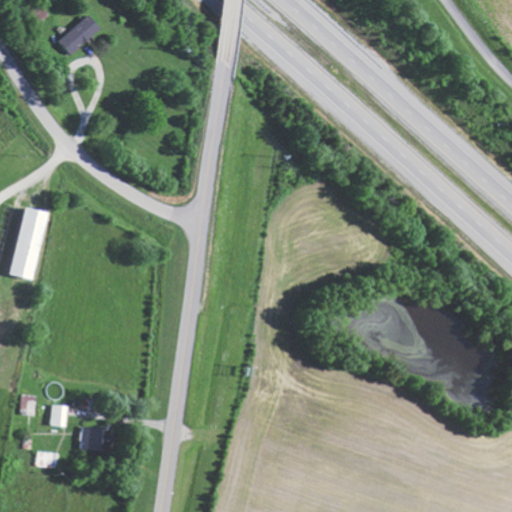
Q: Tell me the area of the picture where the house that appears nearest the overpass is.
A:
top left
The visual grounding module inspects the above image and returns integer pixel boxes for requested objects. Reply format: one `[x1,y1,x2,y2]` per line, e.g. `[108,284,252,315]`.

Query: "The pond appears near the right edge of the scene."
[348,296,502,406]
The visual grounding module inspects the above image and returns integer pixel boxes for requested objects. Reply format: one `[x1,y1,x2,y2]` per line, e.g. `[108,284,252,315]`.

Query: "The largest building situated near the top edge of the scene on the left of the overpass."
[60,16,98,54]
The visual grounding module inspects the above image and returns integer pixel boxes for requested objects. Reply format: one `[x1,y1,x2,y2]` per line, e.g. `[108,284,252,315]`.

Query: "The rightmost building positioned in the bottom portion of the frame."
[76,426,109,451]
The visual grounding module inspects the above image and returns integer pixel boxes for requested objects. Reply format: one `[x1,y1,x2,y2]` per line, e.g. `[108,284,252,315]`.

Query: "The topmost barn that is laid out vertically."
[10,207,50,282]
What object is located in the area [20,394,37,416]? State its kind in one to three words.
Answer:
shed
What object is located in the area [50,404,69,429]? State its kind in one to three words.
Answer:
building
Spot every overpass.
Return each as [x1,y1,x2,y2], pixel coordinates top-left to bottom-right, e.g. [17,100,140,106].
[215,0,242,64]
